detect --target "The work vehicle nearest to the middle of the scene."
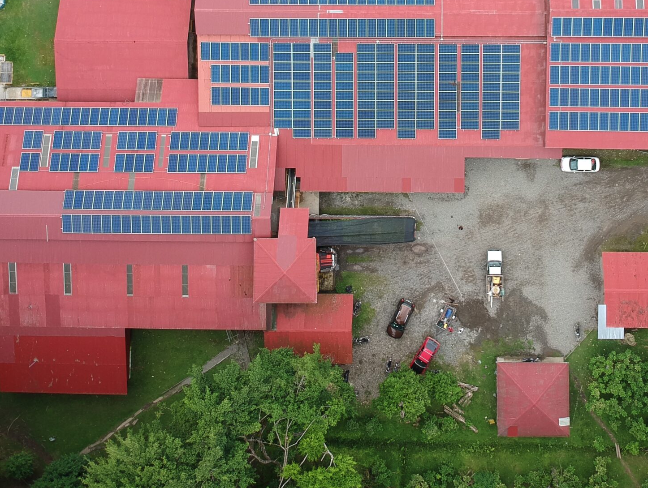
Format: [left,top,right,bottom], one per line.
[316,247,339,274]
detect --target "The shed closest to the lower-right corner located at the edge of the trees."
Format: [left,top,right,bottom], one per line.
[497,358,571,438]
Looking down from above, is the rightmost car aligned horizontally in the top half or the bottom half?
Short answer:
top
